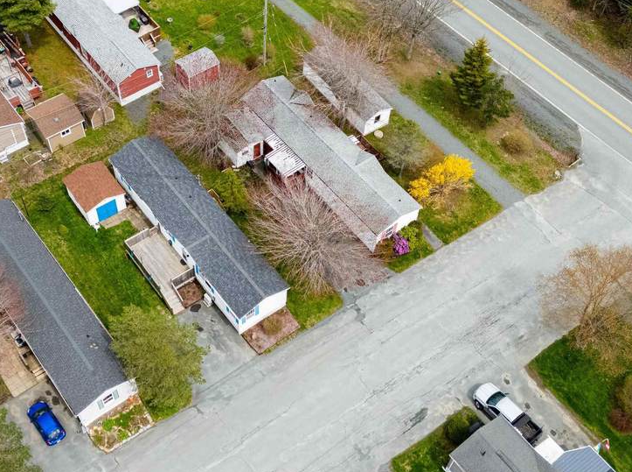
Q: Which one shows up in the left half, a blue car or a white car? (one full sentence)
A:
You can see a blue car in the left half.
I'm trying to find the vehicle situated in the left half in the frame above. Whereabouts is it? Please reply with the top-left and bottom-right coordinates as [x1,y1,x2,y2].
[26,399,67,450]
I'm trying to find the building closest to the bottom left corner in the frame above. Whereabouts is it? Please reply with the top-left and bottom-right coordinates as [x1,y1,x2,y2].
[0,200,134,428]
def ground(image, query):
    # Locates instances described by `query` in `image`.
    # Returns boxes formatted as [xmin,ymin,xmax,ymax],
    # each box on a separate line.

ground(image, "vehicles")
[469,382,548,446]
[26,399,67,450]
